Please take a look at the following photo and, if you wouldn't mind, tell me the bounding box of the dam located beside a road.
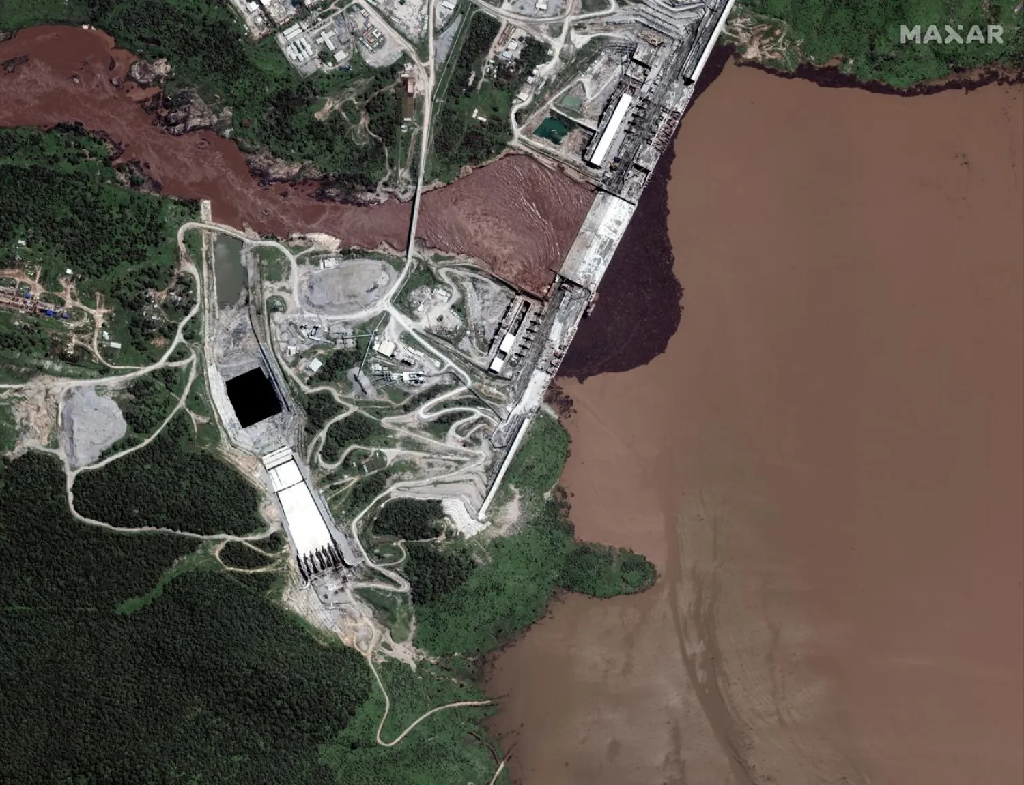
[479,0,734,521]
